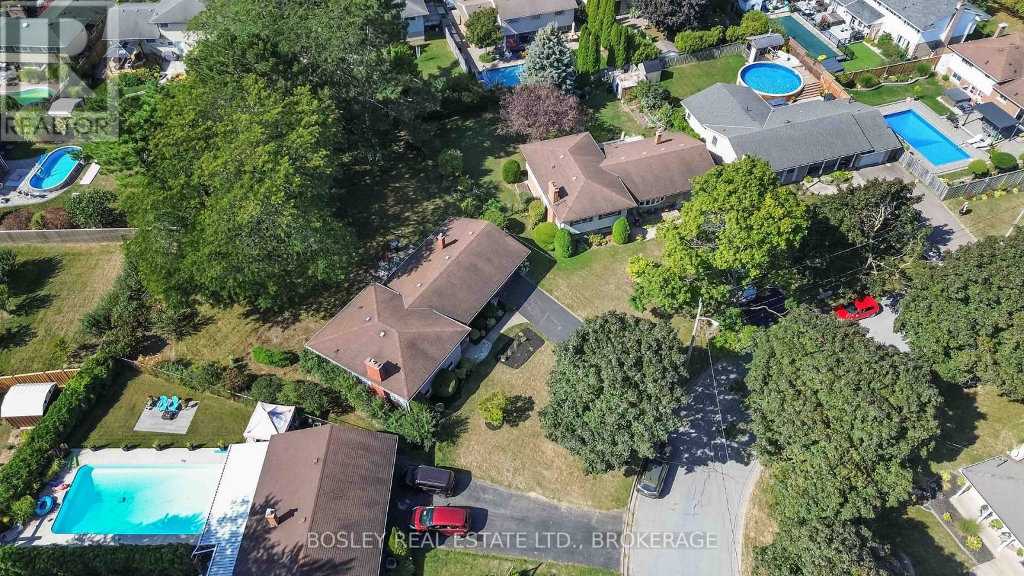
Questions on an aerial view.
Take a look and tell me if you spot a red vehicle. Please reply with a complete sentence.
Yes, looking at the shot, I can spot a red vehicle.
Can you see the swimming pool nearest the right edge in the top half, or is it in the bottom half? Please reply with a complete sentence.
It is in the top half that the swimming pool nearest the right edge appears.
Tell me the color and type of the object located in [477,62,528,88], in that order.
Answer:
blue swimming pool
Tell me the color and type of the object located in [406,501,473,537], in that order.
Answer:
red car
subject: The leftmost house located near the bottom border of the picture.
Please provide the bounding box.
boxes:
[193,421,400,576]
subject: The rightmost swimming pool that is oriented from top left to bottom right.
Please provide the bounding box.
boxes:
[880,105,976,175]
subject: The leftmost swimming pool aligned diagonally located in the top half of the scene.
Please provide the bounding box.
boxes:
[20,146,95,201]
